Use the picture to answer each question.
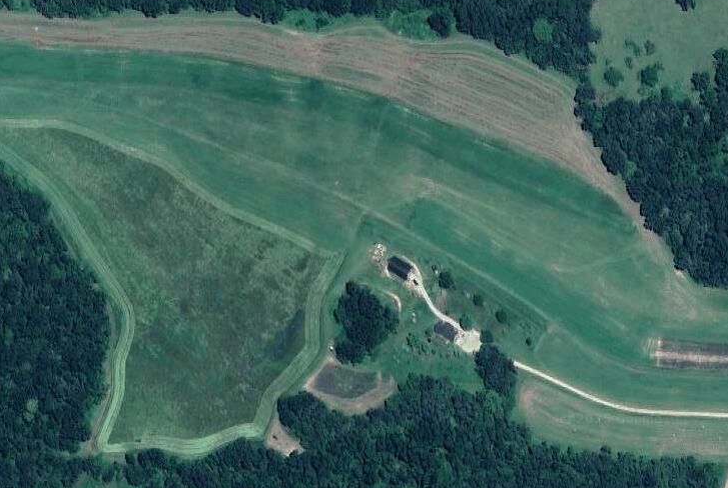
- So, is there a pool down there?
No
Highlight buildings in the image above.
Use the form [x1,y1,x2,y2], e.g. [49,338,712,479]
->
[434,320,457,341]
[388,257,411,279]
